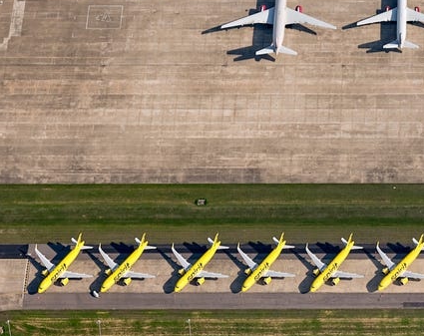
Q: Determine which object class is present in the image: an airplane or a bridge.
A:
airplane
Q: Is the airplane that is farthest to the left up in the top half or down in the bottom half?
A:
bottom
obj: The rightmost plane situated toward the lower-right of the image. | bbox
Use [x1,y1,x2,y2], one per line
[376,234,424,290]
